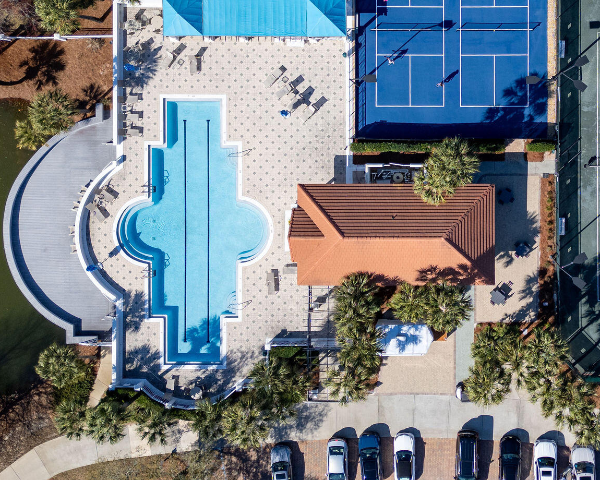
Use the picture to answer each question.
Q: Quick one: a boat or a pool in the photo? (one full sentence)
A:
This aerial view contains a pool.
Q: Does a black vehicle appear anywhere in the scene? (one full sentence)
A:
Yes, there's a black vehicle here.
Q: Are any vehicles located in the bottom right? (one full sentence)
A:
Yes, a vehicle is visible in the bottom right.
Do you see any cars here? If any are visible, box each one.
[454,429,481,480]
[498,435,524,480]
[562,445,597,480]
[357,431,383,480]
[390,432,417,480]
[325,438,350,480]
[532,438,559,480]
[267,445,293,480]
